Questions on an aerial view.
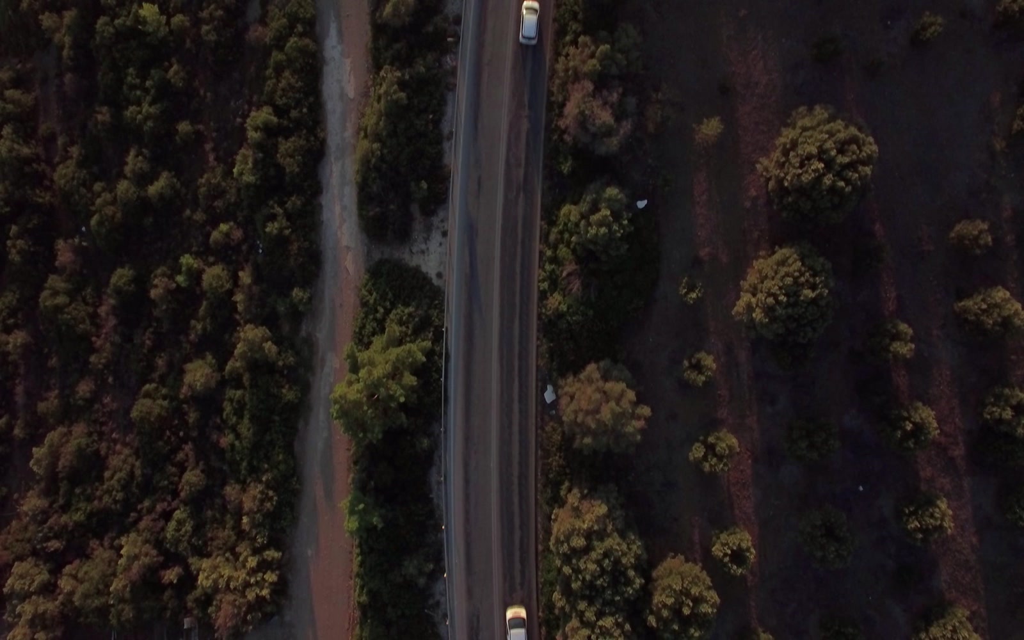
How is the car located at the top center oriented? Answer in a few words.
vertically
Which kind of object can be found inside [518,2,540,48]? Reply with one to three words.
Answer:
car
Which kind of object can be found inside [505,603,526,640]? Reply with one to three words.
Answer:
car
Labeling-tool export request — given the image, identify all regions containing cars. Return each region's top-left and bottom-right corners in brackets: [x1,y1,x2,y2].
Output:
[518,2,540,48]
[505,603,526,640]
